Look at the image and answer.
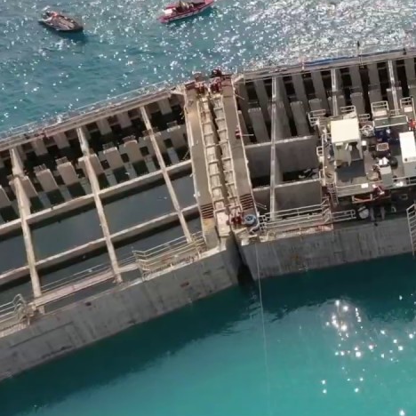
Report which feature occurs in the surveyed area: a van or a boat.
boat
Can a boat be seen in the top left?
Yes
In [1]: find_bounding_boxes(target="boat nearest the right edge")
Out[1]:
[157,0,214,26]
